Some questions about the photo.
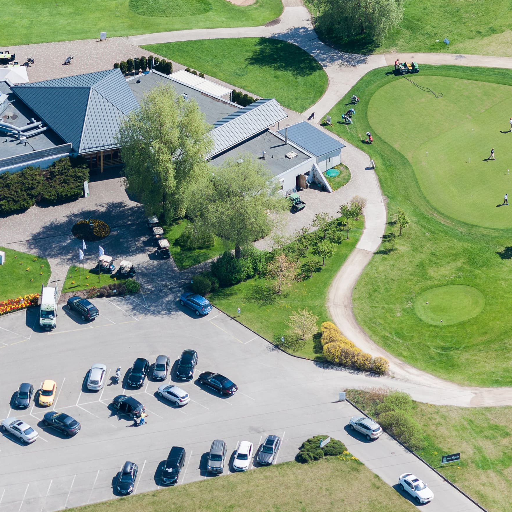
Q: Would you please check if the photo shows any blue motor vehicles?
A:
Yes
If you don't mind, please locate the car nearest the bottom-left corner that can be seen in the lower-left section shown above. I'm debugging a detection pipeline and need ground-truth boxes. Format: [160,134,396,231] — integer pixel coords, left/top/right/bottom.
[0,419,42,445]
